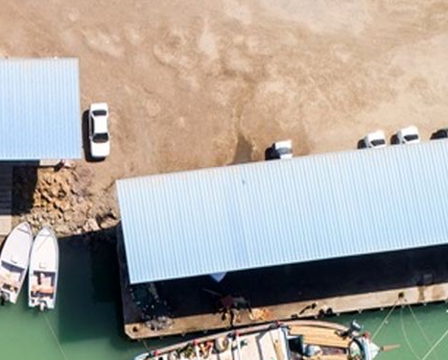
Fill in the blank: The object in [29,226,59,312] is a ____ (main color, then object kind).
white boat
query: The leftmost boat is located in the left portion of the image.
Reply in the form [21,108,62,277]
[0,222,33,304]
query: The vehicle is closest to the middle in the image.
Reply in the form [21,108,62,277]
[270,135,295,160]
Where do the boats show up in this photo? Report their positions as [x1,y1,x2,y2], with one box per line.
[0,222,33,304]
[29,226,59,312]
[129,320,407,360]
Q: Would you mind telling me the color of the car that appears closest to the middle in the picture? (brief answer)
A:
white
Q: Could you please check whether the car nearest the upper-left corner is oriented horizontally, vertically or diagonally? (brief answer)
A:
vertically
